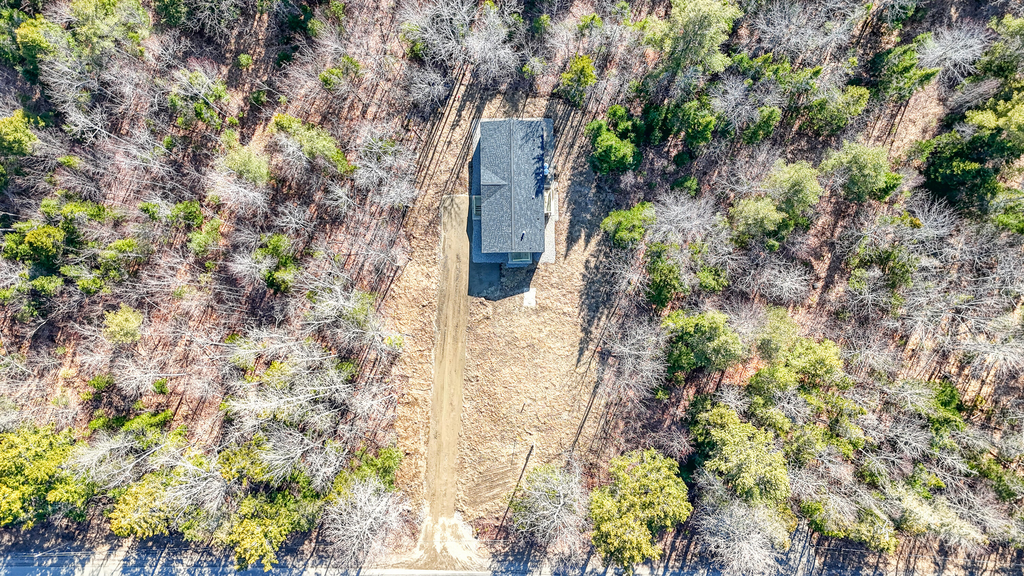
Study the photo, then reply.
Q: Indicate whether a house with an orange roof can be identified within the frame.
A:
No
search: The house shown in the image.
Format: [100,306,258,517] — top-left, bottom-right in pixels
[480,120,545,253]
